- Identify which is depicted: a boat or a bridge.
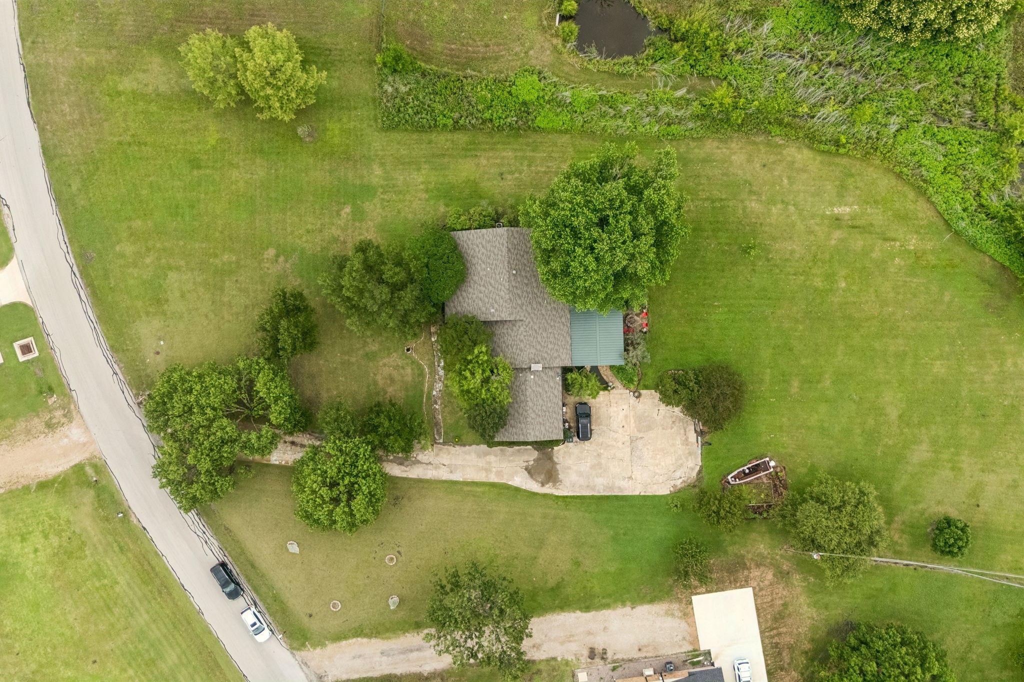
boat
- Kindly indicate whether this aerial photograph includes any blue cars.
No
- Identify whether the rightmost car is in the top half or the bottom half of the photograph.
bottom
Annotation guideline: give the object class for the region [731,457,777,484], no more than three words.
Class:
boat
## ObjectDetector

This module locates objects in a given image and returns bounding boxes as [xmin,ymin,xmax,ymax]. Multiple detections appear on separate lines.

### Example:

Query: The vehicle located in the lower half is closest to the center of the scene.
[575,401,593,440]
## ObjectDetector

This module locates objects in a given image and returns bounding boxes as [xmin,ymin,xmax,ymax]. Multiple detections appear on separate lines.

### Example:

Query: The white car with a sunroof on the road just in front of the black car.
[240,603,270,642]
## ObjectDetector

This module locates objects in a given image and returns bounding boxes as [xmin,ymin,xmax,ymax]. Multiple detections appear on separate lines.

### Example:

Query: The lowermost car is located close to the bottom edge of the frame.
[733,653,754,682]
